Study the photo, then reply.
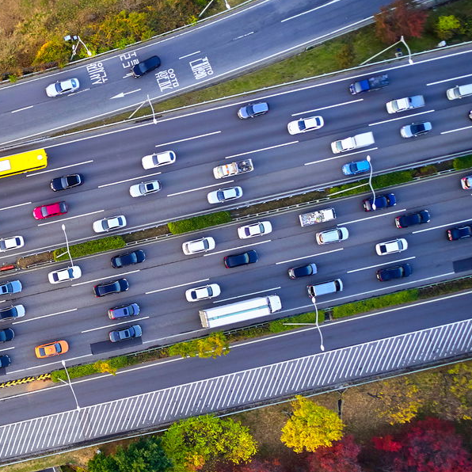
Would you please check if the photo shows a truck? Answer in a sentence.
Yes, looking at the shot, I can spot a truck.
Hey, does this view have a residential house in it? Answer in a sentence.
No, there isn't any residential house down there.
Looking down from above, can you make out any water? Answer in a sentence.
No, water can't be seen anywhere here.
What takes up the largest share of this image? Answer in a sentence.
For the most part, this view shows paved ground.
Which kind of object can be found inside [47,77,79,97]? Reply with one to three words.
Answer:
car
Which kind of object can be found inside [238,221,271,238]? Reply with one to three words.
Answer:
car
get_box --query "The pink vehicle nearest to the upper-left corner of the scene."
[34,201,66,219]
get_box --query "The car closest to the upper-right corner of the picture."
[444,83,472,101]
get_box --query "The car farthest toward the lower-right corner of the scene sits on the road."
[376,263,409,281]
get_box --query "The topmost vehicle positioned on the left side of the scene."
[130,56,163,77]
